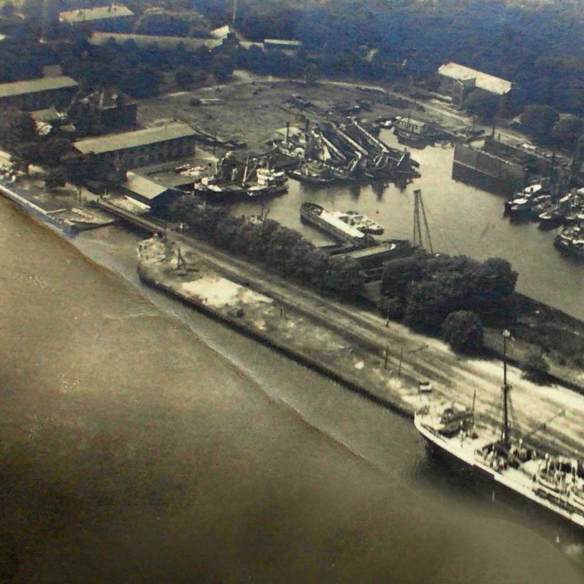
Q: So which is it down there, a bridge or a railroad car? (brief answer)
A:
bridge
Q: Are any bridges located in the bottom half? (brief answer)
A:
No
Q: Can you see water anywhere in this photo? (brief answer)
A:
Yes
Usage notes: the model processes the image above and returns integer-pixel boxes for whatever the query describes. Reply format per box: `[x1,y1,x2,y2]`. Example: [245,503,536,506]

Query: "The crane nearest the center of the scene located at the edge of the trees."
[410,189,452,260]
